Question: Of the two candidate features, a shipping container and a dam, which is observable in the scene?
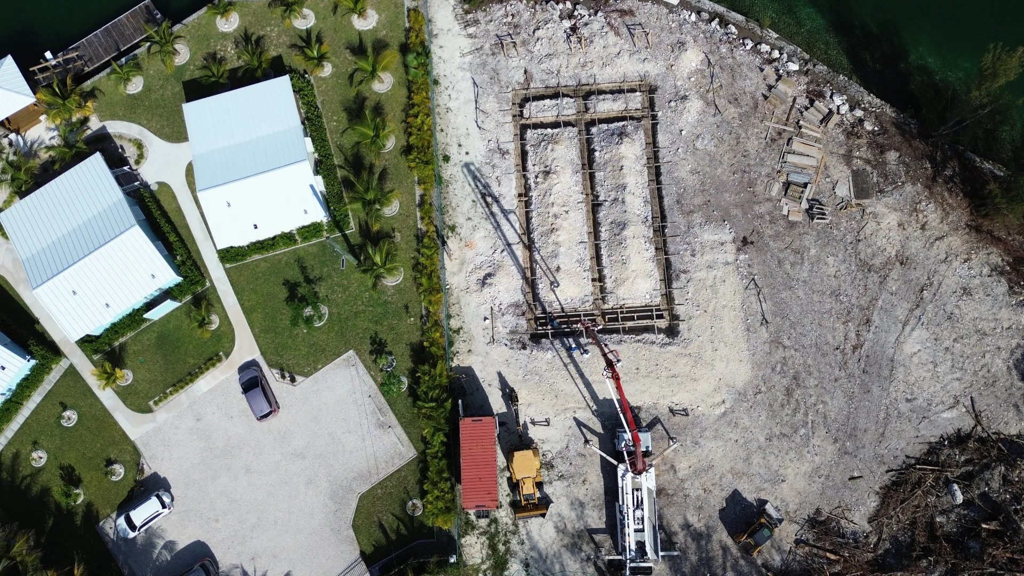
shipping container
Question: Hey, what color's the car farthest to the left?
white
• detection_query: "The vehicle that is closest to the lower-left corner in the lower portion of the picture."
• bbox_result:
[112,487,179,540]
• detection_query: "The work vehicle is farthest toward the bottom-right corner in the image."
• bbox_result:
[737,495,783,557]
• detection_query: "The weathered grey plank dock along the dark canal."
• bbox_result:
[21,0,167,91]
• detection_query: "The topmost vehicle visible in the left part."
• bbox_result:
[237,360,282,427]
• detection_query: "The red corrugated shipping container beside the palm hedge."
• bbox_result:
[458,397,501,513]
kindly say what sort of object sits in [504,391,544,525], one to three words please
work vehicle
